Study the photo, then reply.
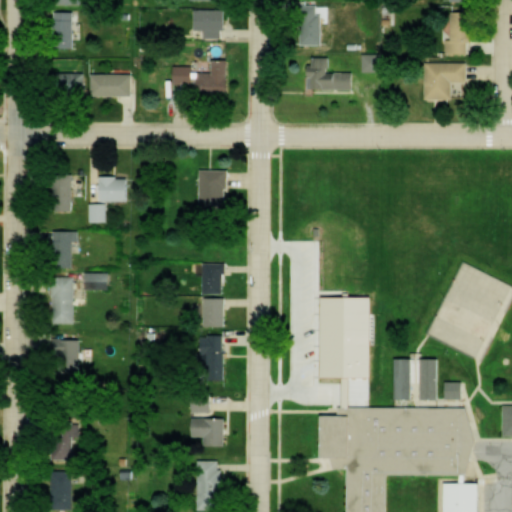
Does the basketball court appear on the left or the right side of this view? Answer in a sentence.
You can find the basketball court on the right side of the picture.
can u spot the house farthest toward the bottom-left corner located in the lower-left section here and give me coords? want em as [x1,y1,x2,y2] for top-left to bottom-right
[50,470,72,511]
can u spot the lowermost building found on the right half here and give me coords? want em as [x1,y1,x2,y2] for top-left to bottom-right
[442,479,484,512]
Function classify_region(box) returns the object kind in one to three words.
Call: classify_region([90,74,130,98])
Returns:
house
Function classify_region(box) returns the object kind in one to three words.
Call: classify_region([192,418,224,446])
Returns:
house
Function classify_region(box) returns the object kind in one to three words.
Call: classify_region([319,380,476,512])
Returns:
building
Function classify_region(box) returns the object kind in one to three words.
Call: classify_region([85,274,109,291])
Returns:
building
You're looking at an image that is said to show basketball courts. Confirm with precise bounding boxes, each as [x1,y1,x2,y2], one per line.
[429,262,512,362]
